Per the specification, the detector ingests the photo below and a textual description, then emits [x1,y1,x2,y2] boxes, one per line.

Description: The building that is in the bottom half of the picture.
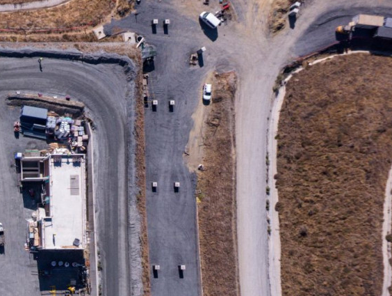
[34,154,87,249]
